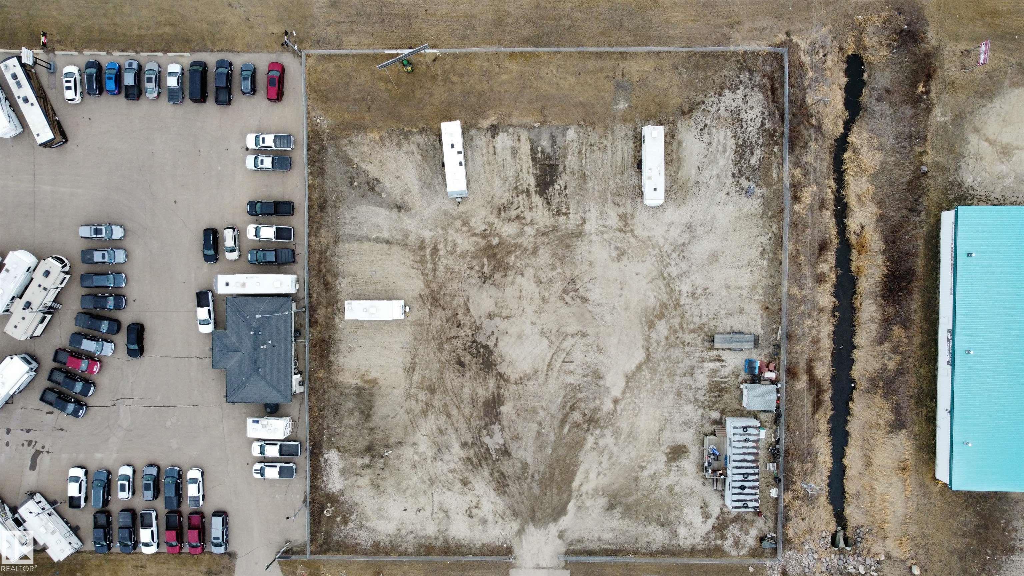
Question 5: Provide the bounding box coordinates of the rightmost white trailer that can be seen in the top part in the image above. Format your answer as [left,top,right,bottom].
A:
[634,125,664,210]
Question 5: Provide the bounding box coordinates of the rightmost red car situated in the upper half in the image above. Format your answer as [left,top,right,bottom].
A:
[266,61,285,104]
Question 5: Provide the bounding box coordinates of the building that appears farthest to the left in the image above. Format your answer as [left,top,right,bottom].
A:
[212,296,293,404]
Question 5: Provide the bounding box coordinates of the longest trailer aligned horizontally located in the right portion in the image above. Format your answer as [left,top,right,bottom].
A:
[702,332,758,351]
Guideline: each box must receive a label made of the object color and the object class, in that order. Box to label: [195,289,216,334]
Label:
white truck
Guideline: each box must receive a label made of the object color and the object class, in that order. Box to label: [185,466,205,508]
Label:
white vehicle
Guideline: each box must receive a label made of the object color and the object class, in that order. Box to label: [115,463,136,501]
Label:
white car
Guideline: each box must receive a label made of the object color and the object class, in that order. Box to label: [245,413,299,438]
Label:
white camper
